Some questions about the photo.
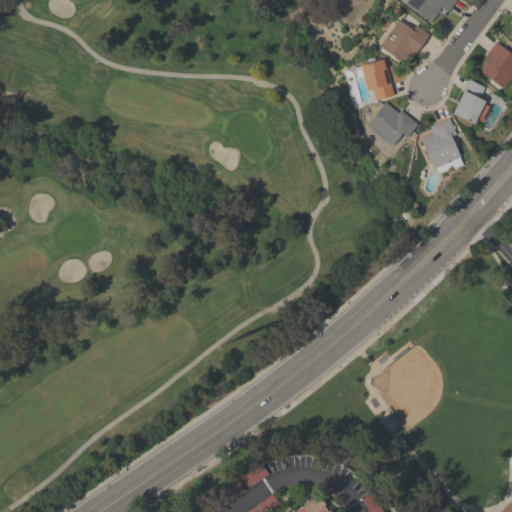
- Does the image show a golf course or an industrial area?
golf course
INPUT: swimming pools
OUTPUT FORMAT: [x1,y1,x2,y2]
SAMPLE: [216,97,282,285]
[426,172,438,192]
[484,104,502,128]
[358,77,371,103]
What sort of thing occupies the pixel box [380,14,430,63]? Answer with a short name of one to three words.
house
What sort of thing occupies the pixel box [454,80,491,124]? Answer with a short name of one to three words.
house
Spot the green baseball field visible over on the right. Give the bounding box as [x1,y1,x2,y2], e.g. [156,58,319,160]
[372,296,512,500]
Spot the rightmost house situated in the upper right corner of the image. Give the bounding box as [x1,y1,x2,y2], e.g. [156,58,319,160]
[483,42,512,89]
